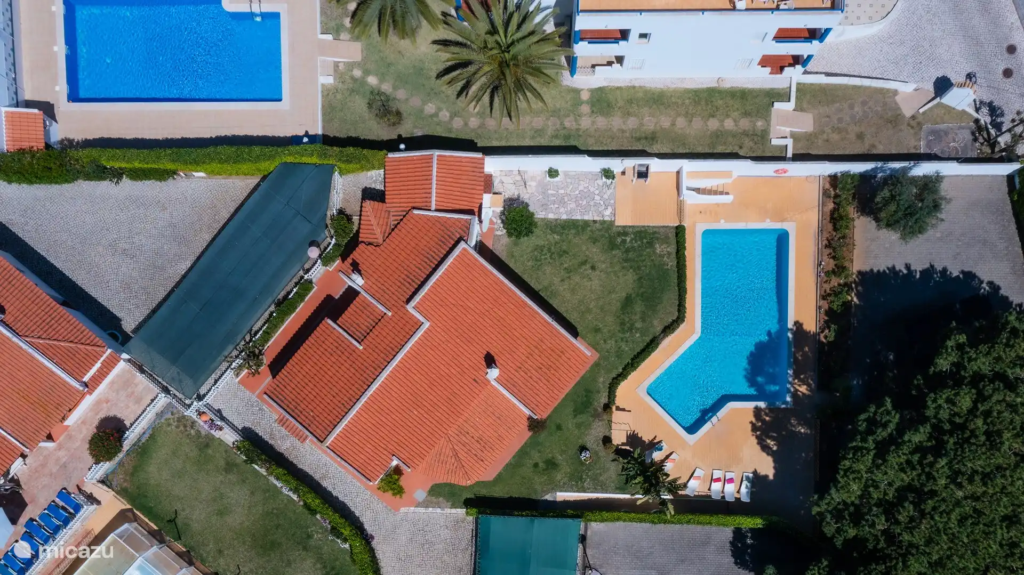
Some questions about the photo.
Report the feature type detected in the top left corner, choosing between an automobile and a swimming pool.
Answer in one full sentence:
What appears in the top left corner is a swimming pool.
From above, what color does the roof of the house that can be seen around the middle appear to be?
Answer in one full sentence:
The roof of the house that can be seen around the middle is red.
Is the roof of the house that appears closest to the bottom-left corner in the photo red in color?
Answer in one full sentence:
Yes, the roof of the house that appears closest to the bottom-left corner is indeed red.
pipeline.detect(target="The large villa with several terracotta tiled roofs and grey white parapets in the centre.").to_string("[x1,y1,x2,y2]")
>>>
[262,149,593,485]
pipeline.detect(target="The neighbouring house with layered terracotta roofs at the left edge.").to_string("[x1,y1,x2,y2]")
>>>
[0,241,144,480]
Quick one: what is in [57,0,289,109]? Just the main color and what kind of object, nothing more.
blue swimming pool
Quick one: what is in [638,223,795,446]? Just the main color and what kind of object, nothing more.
blue swimming pool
